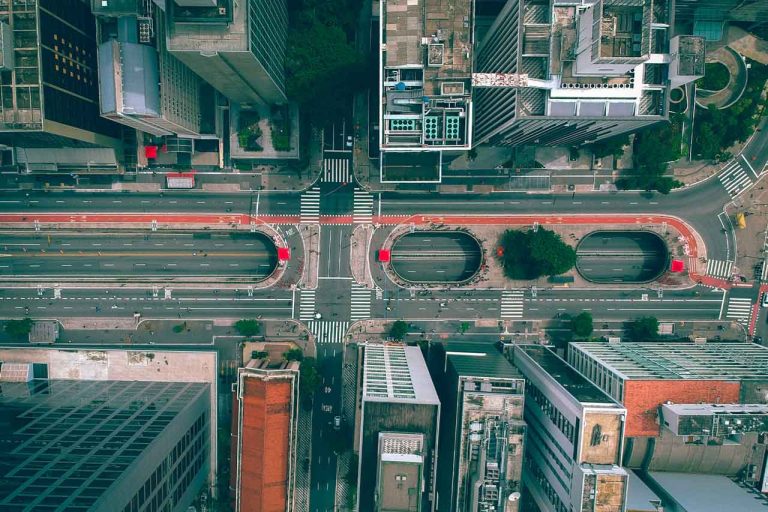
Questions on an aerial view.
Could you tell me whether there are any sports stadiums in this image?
No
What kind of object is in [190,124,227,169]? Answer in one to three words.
building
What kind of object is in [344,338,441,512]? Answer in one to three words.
building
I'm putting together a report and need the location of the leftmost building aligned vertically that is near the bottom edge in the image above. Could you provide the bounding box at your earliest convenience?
[228,345,305,512]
